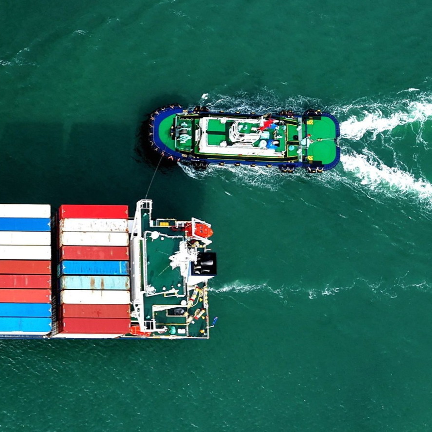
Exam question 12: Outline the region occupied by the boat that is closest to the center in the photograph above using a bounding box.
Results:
[186,222,213,239]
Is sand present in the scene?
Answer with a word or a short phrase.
No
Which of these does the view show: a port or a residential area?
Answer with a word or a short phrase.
port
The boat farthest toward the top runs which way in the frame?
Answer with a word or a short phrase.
from side to side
